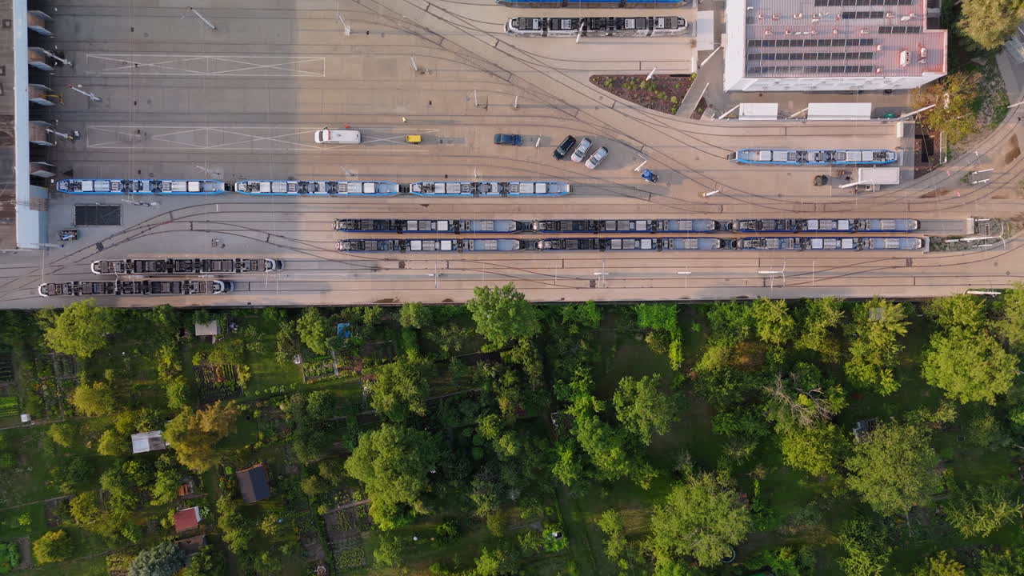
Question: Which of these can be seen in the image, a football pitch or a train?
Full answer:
Of the two, only a train appears.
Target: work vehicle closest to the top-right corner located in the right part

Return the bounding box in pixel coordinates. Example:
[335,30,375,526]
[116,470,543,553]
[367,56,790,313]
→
[641,168,659,184]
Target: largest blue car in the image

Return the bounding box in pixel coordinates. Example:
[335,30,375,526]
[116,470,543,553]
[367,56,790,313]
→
[494,133,521,146]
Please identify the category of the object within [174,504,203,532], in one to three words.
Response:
shed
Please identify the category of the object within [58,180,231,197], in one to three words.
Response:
train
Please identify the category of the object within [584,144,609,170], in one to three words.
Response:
car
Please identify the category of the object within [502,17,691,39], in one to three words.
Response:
train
